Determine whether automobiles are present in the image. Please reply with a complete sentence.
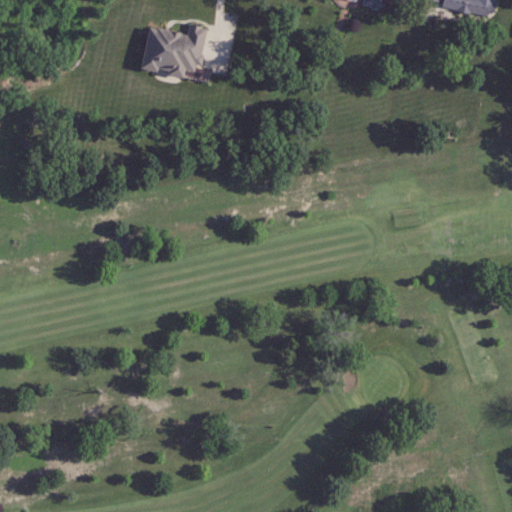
No, the scene contains no automobile.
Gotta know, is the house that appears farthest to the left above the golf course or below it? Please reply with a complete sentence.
The house that appears farthest to the left appears above the golf course in the picture.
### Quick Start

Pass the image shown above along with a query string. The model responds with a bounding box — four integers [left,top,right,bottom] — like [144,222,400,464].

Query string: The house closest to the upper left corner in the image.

[141,22,211,78]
